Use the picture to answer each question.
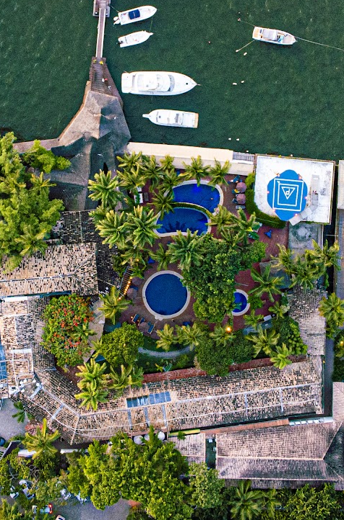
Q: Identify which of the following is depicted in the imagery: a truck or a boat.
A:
boat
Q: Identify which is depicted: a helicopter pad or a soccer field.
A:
helicopter pad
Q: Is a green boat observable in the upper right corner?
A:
No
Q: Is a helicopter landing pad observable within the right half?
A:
Yes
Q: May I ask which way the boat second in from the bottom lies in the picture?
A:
from side to side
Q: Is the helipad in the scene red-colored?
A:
No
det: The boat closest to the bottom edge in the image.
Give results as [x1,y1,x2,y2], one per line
[142,108,199,127]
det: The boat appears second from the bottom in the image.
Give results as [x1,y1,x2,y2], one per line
[122,72,200,96]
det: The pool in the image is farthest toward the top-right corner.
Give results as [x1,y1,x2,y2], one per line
[169,180,223,213]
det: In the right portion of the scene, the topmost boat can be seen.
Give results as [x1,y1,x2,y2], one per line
[253,27,294,45]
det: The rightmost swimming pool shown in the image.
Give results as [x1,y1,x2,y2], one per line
[224,289,250,315]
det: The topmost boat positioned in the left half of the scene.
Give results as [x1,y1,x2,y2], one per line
[115,7,157,25]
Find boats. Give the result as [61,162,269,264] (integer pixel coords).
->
[142,108,199,127]
[115,32,156,47]
[122,72,200,96]
[115,7,157,25]
[253,27,294,45]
